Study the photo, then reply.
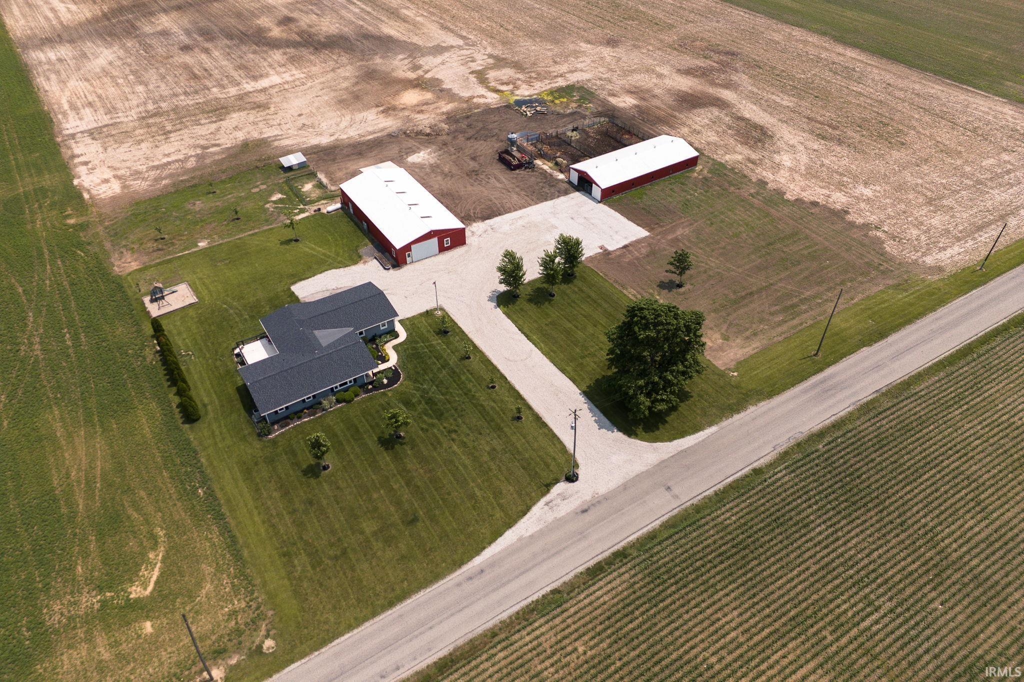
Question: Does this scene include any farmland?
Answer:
Yes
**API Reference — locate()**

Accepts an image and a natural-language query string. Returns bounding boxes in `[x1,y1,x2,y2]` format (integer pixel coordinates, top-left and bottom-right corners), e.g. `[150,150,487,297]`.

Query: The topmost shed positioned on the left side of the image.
[278,150,308,171]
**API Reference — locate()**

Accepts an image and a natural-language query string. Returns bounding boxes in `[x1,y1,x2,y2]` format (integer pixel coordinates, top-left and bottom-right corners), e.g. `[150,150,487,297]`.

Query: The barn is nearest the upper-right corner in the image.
[569,135,700,202]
